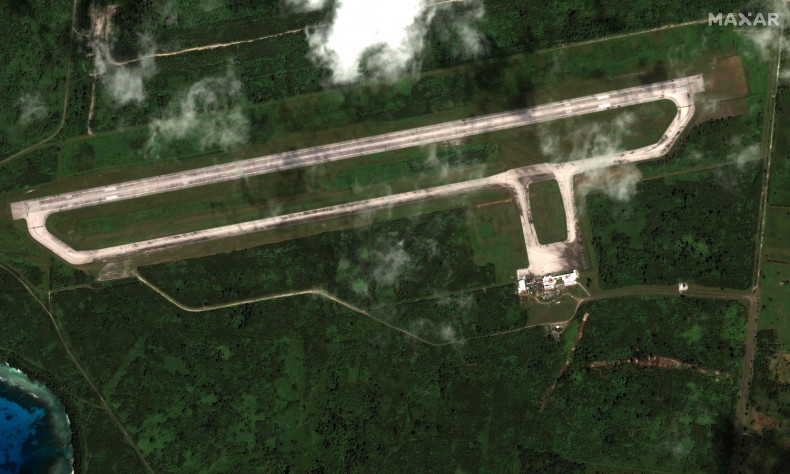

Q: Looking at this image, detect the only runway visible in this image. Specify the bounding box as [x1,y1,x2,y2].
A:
[25,77,690,217]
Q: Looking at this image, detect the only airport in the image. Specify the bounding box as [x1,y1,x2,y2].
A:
[0,16,761,326]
